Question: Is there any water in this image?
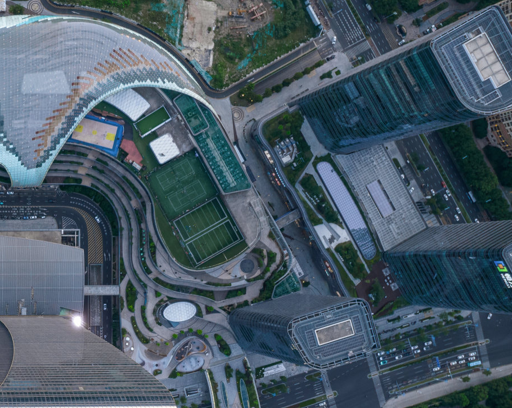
No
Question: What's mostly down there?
buildings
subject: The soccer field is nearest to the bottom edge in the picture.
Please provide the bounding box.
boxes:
[186,220,240,265]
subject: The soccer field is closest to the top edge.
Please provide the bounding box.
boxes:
[172,197,227,241]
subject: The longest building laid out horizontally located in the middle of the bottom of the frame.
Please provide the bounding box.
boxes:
[231,296,383,369]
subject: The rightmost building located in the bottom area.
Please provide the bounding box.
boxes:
[385,205,512,314]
